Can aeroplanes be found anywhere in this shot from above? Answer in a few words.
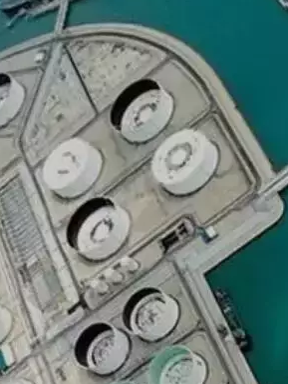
No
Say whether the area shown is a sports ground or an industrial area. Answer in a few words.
industrial area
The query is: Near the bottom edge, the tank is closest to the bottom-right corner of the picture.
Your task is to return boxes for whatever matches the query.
[149,343,210,384]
